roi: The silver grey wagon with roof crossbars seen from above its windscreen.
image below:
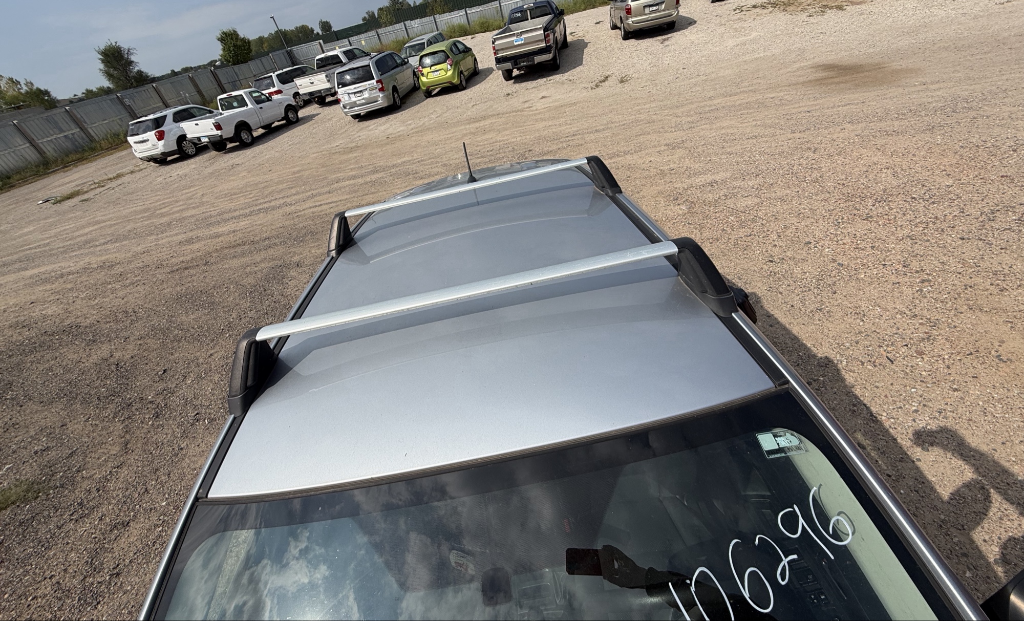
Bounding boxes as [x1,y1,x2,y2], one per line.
[134,141,1024,621]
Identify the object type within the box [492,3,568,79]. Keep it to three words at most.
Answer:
truck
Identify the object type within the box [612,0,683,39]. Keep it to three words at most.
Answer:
car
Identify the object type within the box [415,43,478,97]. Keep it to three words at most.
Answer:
car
